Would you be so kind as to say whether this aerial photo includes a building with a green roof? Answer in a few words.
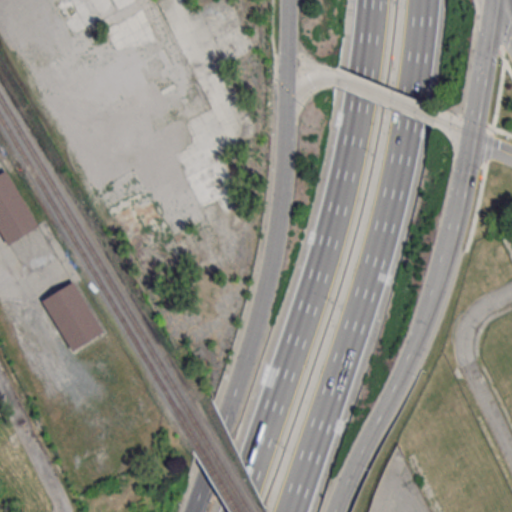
No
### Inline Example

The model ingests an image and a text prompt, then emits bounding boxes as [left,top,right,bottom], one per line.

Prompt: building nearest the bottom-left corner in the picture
[40,282,104,351]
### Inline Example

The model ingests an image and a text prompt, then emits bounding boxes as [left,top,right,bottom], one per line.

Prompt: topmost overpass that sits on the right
[332,66,434,128]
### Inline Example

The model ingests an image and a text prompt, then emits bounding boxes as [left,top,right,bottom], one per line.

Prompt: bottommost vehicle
[247,424,267,470]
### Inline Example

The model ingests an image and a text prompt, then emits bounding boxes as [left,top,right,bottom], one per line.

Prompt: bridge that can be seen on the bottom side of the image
[192,402,267,512]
